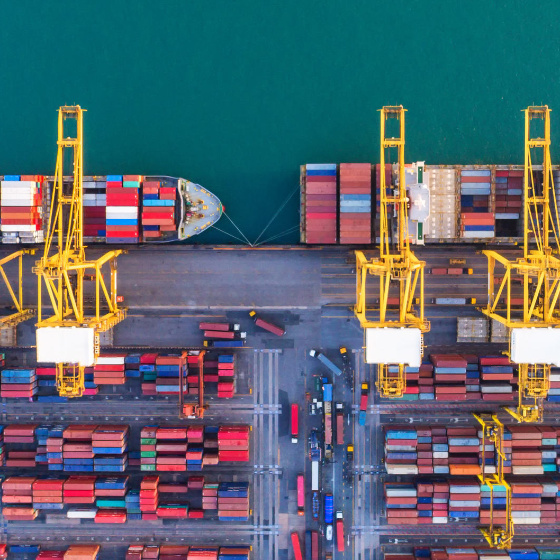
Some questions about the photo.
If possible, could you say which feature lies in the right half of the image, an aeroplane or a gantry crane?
gantry crane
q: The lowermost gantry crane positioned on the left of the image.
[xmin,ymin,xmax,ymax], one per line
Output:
[178,347,211,424]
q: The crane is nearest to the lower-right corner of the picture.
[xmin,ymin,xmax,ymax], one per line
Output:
[474,471,512,551]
